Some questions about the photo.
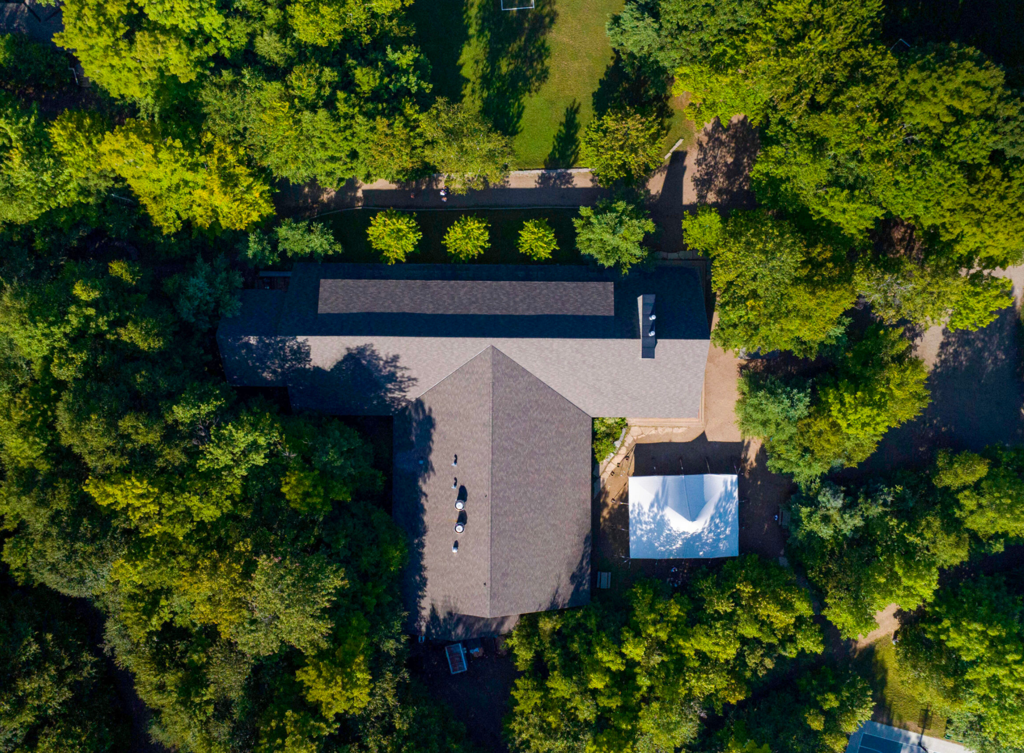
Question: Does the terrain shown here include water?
No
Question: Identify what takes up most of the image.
trees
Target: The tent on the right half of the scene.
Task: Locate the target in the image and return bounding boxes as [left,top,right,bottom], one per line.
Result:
[609,455,750,571]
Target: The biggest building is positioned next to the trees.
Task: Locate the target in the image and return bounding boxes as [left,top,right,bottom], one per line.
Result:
[214,261,713,641]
